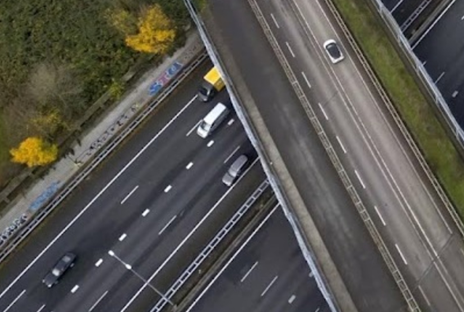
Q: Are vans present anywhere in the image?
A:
Yes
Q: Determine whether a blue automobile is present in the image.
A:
No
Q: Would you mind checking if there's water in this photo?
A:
No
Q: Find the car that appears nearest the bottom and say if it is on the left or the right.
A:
left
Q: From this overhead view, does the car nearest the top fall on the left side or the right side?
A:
right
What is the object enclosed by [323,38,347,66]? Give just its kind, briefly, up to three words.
car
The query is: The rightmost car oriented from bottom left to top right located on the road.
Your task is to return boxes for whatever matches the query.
[219,155,252,187]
